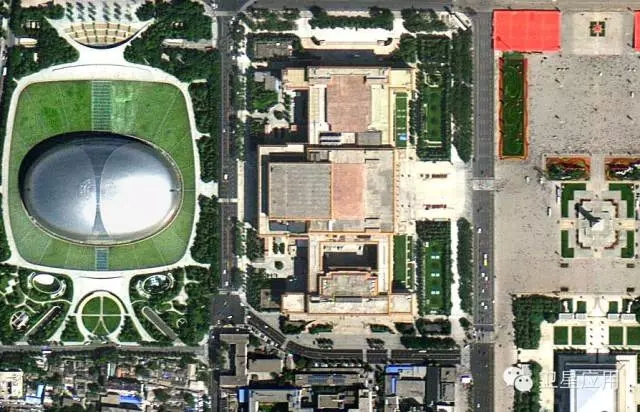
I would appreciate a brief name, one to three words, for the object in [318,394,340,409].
building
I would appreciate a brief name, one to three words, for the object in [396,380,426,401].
building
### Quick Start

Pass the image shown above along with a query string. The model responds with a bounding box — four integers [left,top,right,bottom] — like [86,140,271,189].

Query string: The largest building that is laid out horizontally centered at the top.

[253,41,293,58]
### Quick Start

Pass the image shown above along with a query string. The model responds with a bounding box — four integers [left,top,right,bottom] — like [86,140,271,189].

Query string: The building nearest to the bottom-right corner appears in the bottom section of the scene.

[555,349,640,412]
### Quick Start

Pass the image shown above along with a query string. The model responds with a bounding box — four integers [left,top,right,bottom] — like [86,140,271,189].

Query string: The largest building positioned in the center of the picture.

[258,66,414,319]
